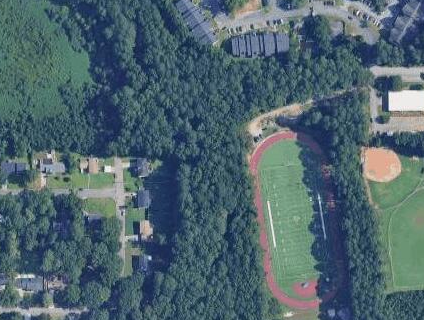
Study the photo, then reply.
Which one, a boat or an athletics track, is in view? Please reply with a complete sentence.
Of the two, only an athletics track appears.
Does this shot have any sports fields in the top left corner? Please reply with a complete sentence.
No, there's no sports field to be seen in the top left corner.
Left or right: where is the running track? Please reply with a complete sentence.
The running track sits on the right side.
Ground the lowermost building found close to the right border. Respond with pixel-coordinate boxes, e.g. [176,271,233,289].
[390,90,424,112]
